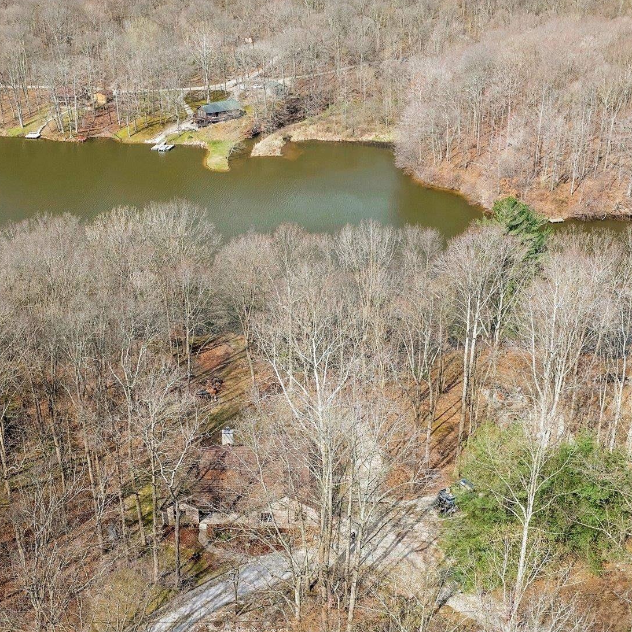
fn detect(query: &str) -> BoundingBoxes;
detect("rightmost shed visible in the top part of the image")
[260,79,289,97]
